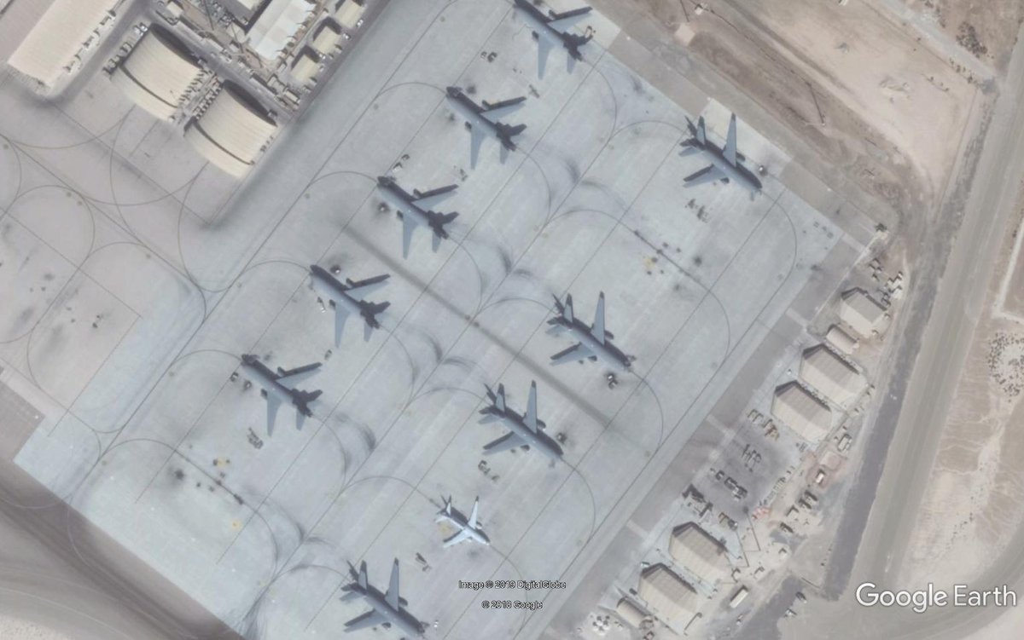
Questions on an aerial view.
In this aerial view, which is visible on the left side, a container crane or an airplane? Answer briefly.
airplane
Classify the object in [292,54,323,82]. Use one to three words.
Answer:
building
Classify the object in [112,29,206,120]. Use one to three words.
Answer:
hangar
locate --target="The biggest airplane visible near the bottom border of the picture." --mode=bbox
[341,562,424,639]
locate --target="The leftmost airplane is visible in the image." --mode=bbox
[241,363,321,439]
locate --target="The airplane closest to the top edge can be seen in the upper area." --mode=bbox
[513,3,594,81]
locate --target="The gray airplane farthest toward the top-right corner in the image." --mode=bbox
[677,113,761,191]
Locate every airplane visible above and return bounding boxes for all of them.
[546,293,630,370]
[341,562,424,639]
[478,384,562,462]
[446,94,526,171]
[677,113,761,191]
[378,184,458,262]
[310,273,390,350]
[437,499,489,547]
[241,363,321,439]
[513,3,594,81]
